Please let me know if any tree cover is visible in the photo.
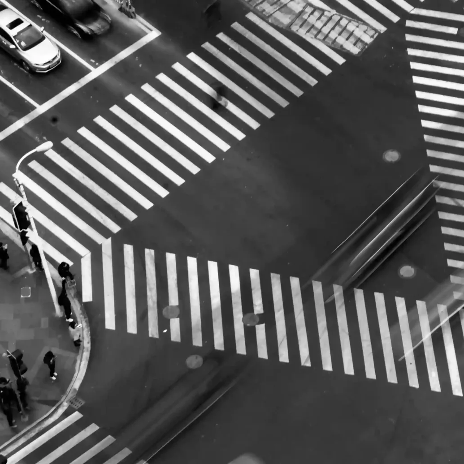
No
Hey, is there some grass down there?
No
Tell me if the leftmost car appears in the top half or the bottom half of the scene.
top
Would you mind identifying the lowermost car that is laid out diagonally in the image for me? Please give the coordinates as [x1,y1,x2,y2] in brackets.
[129,353,235,452]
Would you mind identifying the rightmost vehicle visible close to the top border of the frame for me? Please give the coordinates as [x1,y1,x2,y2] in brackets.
[33,0,114,41]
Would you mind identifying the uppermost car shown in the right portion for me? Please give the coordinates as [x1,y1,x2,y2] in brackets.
[338,180,434,272]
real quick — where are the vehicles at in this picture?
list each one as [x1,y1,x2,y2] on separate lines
[406,251,464,332]
[33,0,114,41]
[129,353,235,452]
[0,0,62,74]
[338,180,434,272]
